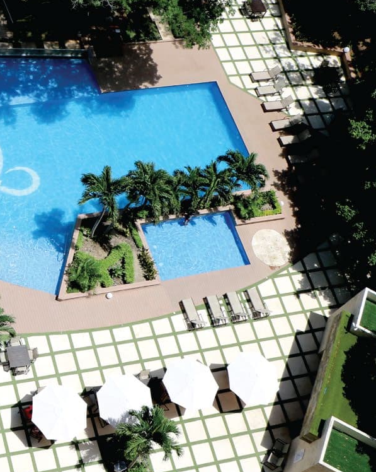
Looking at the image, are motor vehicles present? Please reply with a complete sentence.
No, the frame has no motor vehicle in it.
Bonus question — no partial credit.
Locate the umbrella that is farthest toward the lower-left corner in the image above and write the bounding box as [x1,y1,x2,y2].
[27,387,85,444]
